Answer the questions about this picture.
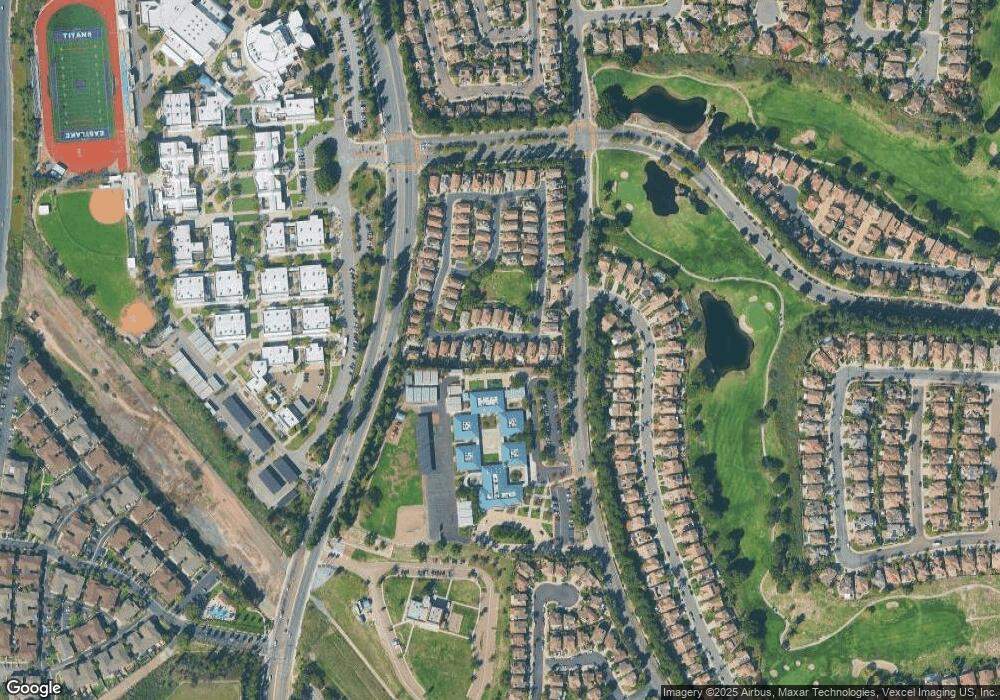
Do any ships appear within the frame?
No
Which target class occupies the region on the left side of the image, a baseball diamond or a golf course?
baseball diamond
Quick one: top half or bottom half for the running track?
top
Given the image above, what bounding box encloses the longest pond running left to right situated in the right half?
[604,86,706,131]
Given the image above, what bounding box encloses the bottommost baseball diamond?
[62,261,155,335]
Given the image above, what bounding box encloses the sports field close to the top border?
[48,3,115,142]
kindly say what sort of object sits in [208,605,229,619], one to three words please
swimming pool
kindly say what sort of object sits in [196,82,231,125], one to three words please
building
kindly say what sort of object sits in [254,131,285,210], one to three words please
building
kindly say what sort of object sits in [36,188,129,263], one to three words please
baseball field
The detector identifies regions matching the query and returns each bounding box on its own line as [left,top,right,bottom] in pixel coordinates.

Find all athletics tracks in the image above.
[36,0,128,173]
